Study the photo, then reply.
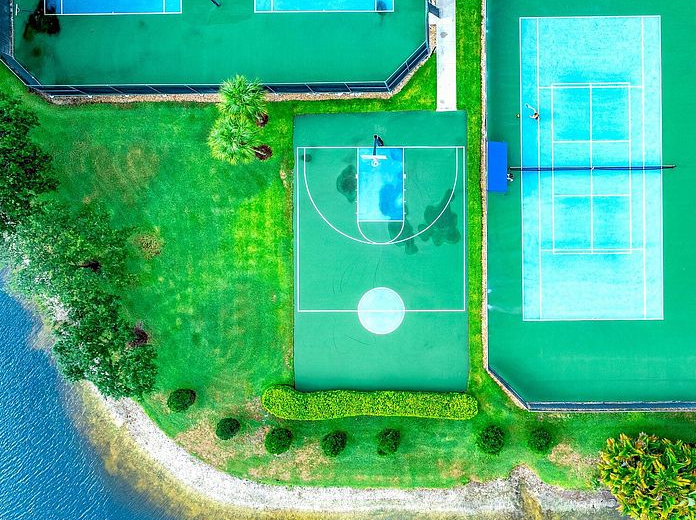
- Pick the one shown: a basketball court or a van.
basketball court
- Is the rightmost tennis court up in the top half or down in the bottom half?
top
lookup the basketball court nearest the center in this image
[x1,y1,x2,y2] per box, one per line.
[294,111,470,393]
